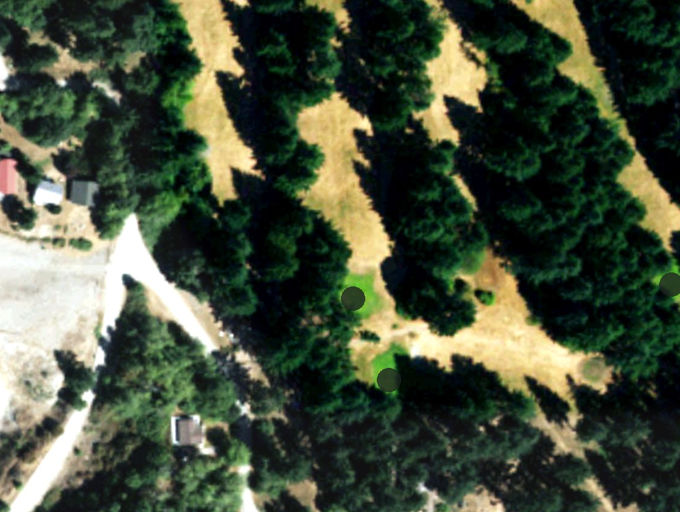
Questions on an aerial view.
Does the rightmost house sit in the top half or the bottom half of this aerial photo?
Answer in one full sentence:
The bottom half of the photo is where the rightmost house is.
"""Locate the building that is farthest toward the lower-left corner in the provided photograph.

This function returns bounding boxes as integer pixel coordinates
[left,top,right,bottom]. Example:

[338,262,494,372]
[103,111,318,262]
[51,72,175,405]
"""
[171,413,210,457]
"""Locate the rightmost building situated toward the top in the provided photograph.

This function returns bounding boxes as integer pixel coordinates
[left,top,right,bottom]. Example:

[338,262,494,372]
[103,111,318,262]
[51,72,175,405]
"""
[70,182,97,207]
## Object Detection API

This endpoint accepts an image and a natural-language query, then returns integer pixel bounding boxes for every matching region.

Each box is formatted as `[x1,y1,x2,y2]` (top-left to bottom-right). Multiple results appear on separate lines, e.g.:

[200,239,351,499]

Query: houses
[0,159,17,198]
[171,413,210,457]
[32,181,63,207]
[70,182,97,207]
